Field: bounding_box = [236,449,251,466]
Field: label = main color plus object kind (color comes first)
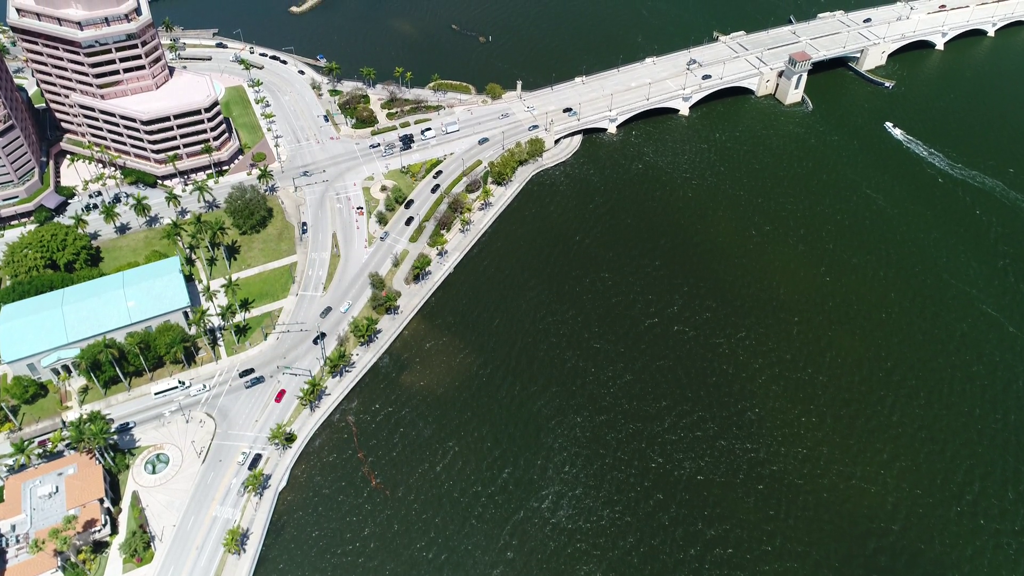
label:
white car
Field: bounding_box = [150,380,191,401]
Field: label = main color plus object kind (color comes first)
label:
white vehicle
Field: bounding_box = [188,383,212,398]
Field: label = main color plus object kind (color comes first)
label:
white vehicle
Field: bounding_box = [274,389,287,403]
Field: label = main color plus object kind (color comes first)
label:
red vehicle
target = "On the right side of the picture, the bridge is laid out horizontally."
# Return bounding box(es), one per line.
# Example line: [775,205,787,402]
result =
[487,0,1024,167]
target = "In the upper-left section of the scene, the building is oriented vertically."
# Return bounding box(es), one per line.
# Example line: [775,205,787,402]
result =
[0,77,65,224]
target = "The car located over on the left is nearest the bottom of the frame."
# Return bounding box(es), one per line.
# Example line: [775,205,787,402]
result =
[235,479,250,498]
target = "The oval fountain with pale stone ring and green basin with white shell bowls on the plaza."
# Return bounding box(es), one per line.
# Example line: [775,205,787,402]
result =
[132,443,183,488]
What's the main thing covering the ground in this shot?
water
